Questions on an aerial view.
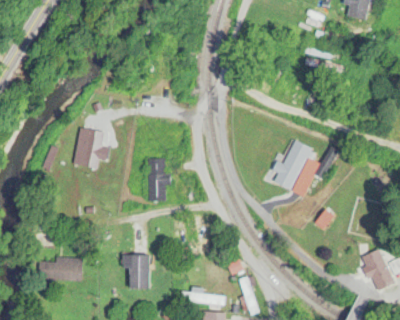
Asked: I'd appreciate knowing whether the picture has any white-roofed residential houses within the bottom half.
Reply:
Yes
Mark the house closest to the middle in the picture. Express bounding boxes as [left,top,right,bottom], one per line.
[148,158,174,200]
